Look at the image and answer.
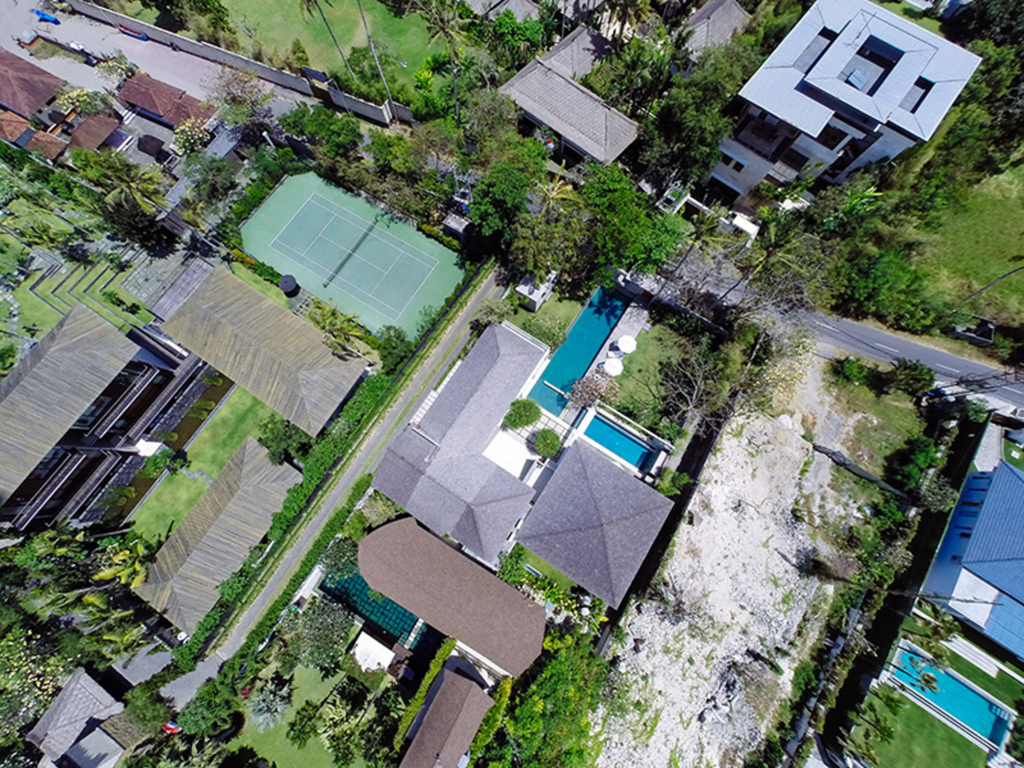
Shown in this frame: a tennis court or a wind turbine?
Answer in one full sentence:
There is a tennis court in the scene.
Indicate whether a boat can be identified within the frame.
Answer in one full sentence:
Yes, the image includes a boat.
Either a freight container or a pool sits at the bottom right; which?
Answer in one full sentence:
The feature located at the bottom right is a pool.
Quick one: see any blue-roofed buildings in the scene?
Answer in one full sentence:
Yes, I can see a blue-roofed building in this picture.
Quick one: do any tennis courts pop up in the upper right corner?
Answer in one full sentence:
No, in the upper right corner there is no tennis court.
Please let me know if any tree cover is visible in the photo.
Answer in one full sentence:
Yes, there's tree cover in this view.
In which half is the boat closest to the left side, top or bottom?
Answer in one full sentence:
You can find the boat closest to the left side in the top half.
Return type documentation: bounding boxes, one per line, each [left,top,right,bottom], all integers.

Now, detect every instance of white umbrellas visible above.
[603,358,623,377]
[617,336,636,354]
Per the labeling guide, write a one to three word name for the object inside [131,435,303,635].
building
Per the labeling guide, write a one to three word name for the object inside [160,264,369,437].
building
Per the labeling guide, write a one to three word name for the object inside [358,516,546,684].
house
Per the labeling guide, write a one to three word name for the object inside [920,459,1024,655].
house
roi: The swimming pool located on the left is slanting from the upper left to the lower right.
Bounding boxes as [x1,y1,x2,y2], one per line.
[320,570,445,657]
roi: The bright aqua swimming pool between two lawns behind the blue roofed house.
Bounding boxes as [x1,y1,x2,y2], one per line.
[886,636,1014,753]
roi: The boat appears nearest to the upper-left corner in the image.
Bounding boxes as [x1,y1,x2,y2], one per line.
[28,5,64,33]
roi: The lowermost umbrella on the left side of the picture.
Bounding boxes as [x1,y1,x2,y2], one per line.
[280,276,298,292]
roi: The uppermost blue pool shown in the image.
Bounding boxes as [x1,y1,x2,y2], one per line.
[526,285,634,418]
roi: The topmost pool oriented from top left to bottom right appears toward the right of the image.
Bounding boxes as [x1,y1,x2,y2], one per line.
[584,412,661,472]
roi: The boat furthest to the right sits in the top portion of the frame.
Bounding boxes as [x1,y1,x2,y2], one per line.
[115,23,149,42]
